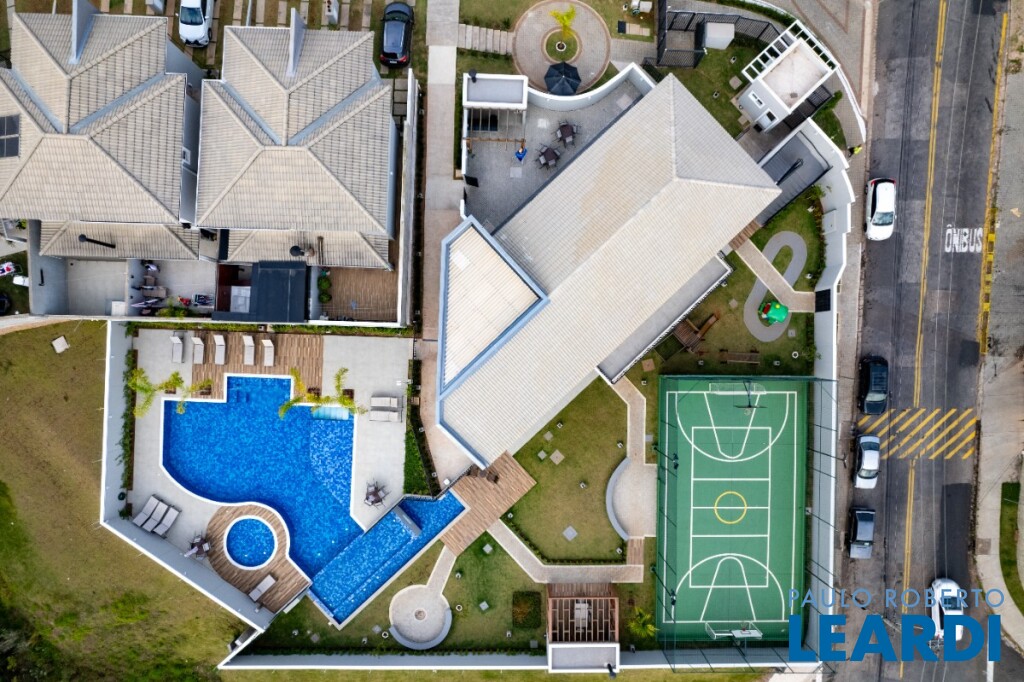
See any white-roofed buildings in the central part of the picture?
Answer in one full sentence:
Yes, you'll find a white-roofed building in the central part of the picture.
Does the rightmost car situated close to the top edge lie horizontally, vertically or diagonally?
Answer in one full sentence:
The rightmost car situated close to the top edge is laid out vertically.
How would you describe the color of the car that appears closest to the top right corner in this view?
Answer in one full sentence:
The car that appears closest to the top right corner looks white in the image.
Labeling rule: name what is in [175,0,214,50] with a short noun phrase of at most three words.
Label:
car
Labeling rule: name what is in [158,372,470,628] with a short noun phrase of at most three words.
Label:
swimming pool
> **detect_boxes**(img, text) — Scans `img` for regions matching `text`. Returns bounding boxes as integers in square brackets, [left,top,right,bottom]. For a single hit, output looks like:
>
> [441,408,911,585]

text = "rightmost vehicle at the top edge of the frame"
[382,2,415,69]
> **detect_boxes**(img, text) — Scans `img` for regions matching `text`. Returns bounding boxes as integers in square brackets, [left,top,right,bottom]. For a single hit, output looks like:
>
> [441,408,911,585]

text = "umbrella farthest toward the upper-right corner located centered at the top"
[545,62,580,97]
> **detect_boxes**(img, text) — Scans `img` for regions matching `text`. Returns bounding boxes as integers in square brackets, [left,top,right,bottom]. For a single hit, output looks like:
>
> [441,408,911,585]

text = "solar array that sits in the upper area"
[1,114,18,158]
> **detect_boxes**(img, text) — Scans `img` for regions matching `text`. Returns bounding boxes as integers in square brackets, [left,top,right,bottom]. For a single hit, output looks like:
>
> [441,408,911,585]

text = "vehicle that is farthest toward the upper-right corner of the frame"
[862,179,899,243]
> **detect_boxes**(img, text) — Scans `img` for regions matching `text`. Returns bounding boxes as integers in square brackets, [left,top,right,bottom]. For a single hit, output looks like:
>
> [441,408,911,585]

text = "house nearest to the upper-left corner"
[0,0,217,259]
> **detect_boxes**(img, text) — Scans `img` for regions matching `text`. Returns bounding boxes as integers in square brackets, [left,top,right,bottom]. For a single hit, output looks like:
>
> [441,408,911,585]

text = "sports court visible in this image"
[656,376,806,641]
